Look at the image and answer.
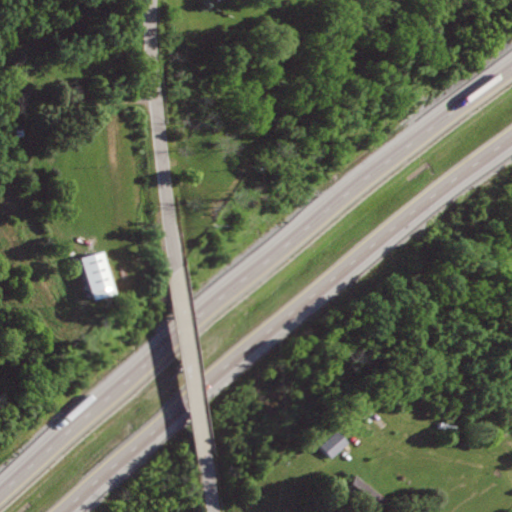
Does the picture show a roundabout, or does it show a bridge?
bridge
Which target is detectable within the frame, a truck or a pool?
truck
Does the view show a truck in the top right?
Yes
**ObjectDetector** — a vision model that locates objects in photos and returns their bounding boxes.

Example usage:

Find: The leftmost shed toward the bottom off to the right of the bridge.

[322,432,349,459]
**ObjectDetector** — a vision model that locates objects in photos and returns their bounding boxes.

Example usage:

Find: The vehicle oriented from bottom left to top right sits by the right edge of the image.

[456,73,504,110]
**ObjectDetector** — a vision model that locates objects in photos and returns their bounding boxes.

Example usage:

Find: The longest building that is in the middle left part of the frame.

[82,251,118,302]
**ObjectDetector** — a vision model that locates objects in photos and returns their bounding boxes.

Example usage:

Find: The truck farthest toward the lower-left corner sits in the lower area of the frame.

[57,394,98,432]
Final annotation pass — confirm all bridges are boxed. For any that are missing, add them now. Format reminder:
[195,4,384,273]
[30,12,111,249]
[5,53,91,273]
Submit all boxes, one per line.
[166,255,216,472]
